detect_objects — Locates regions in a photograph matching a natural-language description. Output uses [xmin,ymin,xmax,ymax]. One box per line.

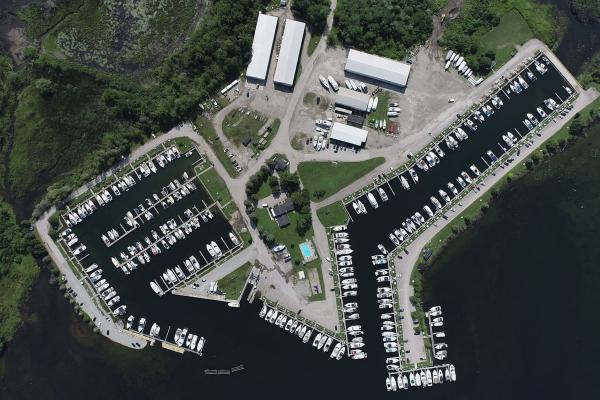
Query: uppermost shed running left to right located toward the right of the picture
[345,49,410,87]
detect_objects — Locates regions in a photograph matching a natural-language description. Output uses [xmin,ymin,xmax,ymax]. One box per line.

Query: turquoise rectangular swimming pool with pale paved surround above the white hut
[299,240,318,262]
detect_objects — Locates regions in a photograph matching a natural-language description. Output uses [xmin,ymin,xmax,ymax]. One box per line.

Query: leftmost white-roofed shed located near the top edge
[247,13,278,81]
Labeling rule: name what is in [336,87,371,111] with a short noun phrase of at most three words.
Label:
building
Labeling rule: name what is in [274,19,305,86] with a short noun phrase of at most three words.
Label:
shed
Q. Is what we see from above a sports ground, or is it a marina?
marina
